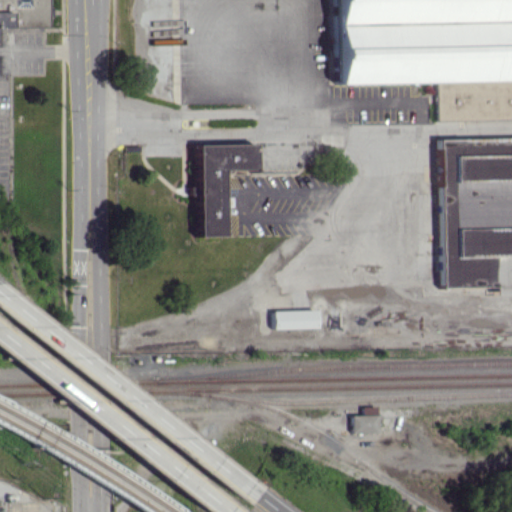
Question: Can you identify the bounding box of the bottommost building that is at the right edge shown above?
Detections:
[438,140,512,288]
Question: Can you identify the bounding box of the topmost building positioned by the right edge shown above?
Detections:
[333,0,512,87]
